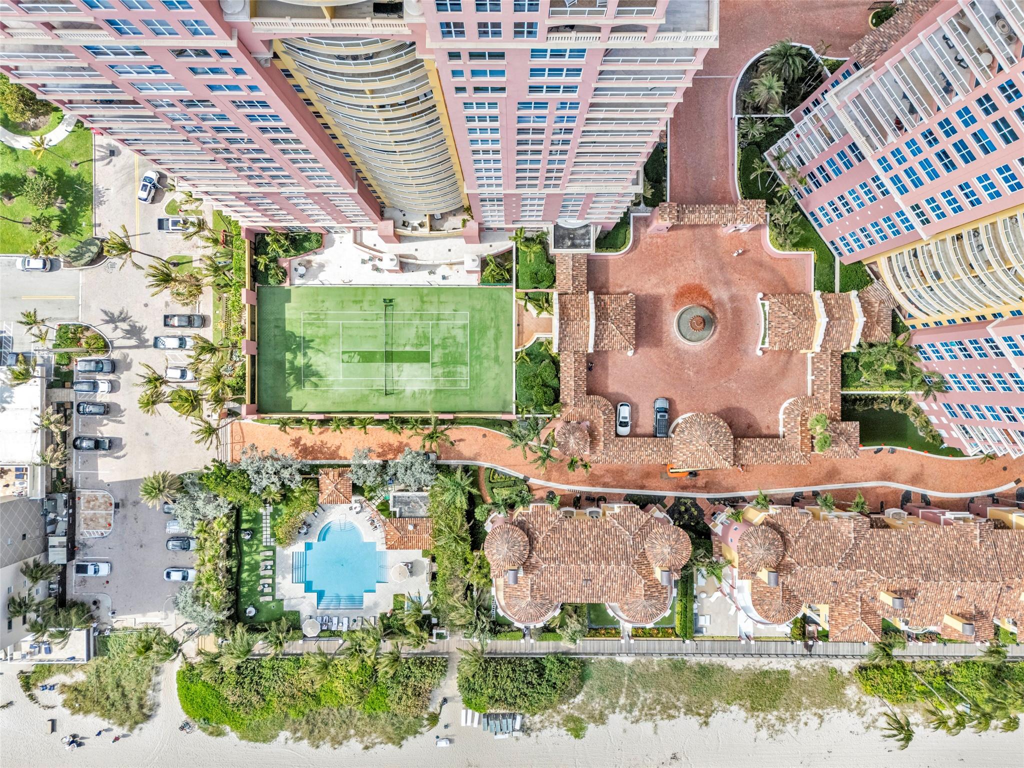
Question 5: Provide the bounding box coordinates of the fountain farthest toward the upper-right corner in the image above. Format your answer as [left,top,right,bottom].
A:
[674,304,716,346]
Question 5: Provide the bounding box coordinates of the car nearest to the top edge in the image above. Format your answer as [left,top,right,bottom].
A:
[140,170,163,206]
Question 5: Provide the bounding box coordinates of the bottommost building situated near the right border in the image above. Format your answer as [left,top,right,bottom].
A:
[704,498,1024,643]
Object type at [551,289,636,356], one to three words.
building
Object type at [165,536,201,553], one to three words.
car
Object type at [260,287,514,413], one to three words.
tennis court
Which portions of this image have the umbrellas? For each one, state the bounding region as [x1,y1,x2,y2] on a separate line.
[390,562,410,583]
[301,616,322,638]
